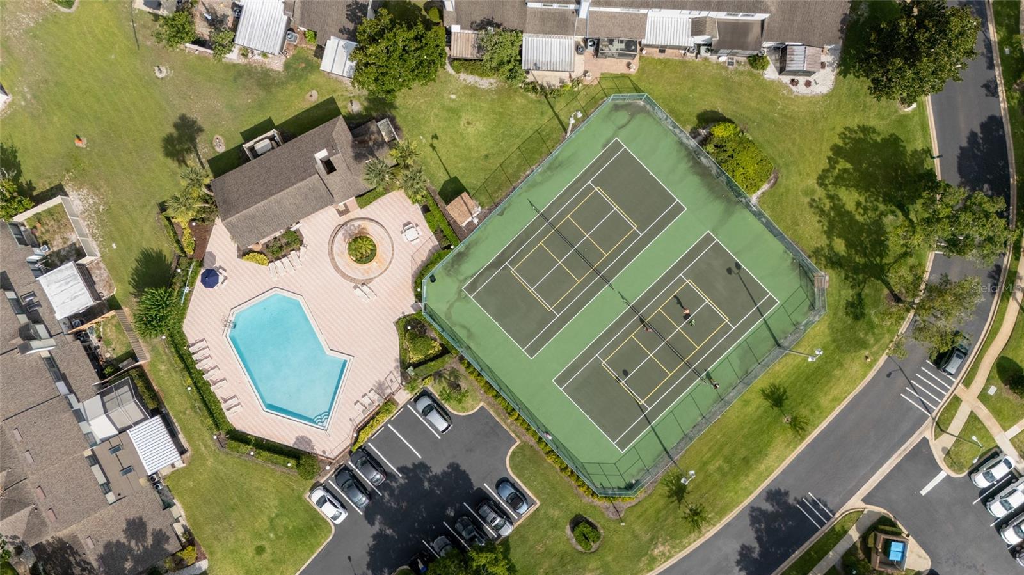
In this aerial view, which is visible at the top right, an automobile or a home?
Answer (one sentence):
You can see a home at the top right.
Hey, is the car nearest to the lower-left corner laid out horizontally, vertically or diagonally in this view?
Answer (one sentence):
In this picture, the car nearest to the lower-left corner lies diagonally.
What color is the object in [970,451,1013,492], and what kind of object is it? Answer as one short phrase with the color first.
white car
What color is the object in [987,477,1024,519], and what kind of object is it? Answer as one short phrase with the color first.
white car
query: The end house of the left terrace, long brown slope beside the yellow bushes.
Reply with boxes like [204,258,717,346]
[20,490,187,575]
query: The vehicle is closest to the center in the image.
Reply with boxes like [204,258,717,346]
[414,392,453,433]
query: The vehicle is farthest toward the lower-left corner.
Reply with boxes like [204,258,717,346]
[309,484,350,525]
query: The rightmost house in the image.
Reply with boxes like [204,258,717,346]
[762,0,851,76]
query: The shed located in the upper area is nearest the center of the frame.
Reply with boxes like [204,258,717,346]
[446,192,480,226]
